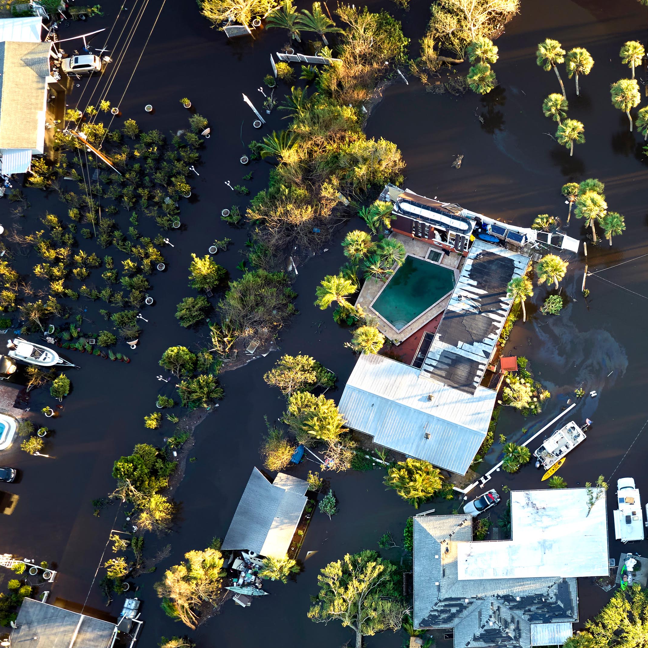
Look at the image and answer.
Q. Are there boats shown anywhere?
Yes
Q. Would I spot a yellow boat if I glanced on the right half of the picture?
Yes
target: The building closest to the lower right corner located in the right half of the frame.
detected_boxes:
[413,485,613,648]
